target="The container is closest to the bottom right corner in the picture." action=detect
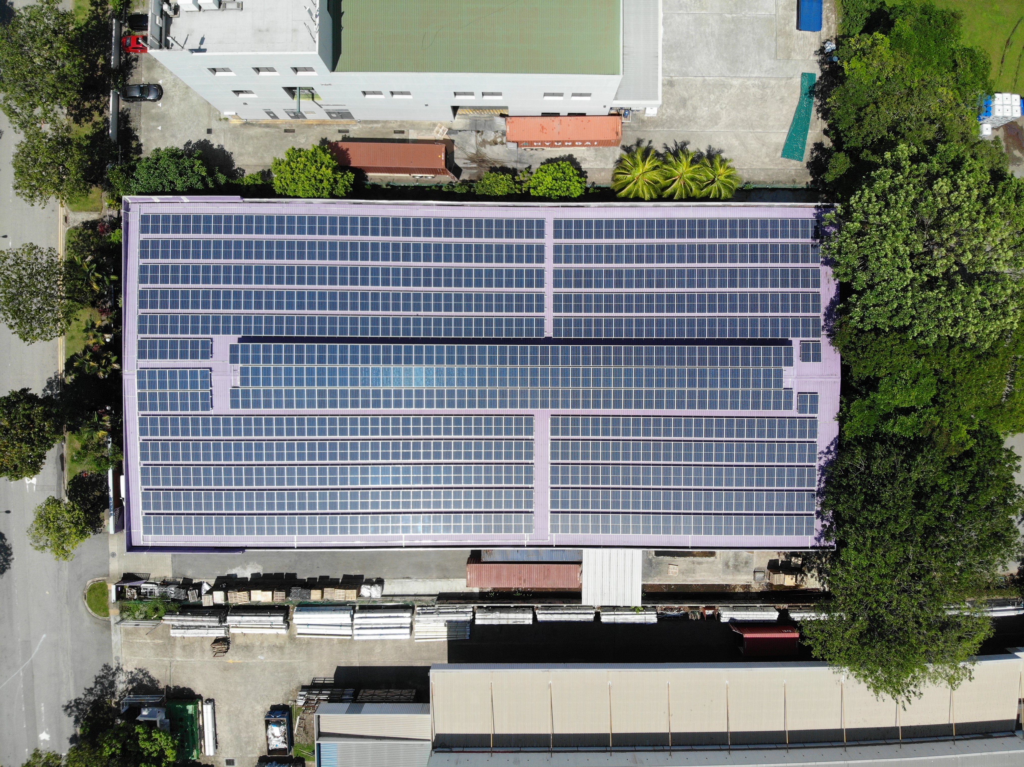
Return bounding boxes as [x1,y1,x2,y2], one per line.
[724,618,800,656]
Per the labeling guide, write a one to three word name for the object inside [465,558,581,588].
shipping container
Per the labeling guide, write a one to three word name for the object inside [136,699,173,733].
building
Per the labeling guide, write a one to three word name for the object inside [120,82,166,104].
car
